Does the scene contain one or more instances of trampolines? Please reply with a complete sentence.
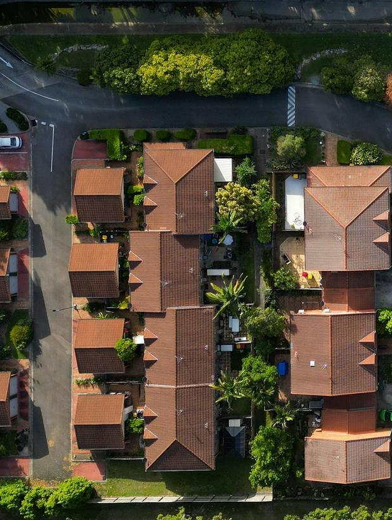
No, there is no trampoline in the image.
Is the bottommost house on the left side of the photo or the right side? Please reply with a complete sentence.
It is on the right.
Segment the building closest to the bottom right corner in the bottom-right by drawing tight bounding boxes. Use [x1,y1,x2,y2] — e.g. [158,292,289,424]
[304,429,392,485]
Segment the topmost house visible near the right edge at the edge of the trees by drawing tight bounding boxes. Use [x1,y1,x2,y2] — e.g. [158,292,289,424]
[300,186,391,273]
